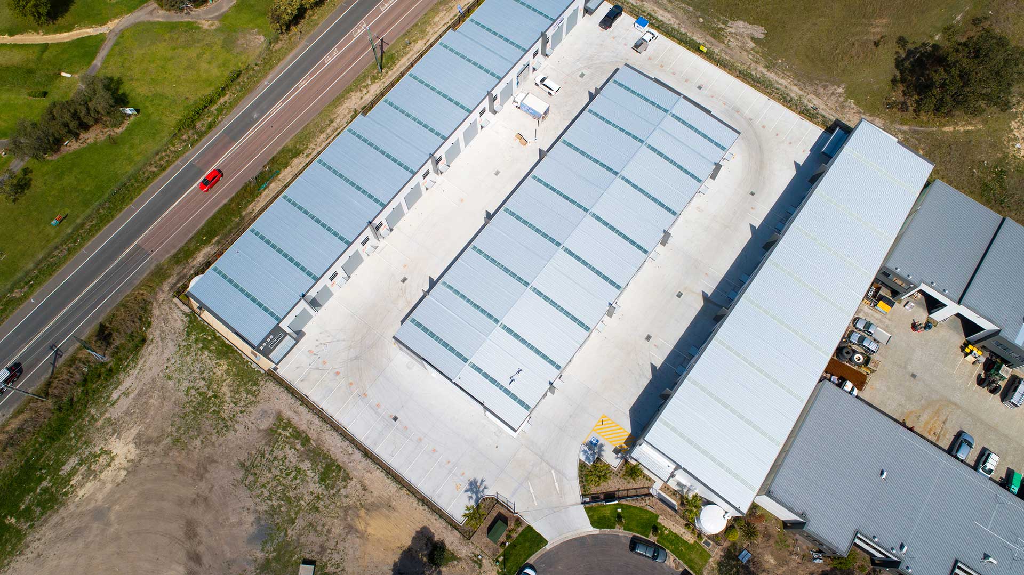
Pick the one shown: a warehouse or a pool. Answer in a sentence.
I can see a warehouse in this picture.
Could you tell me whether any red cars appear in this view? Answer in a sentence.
Yes, a red car can be made out from above.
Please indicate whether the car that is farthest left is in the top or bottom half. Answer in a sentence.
It is in the top half that the car that is farthest left appears.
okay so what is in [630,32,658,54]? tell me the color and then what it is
white truck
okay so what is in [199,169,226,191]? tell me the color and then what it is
red car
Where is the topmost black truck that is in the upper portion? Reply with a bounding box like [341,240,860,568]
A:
[597,6,620,30]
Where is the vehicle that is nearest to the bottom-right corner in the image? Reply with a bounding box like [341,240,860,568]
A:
[999,468,1024,491]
